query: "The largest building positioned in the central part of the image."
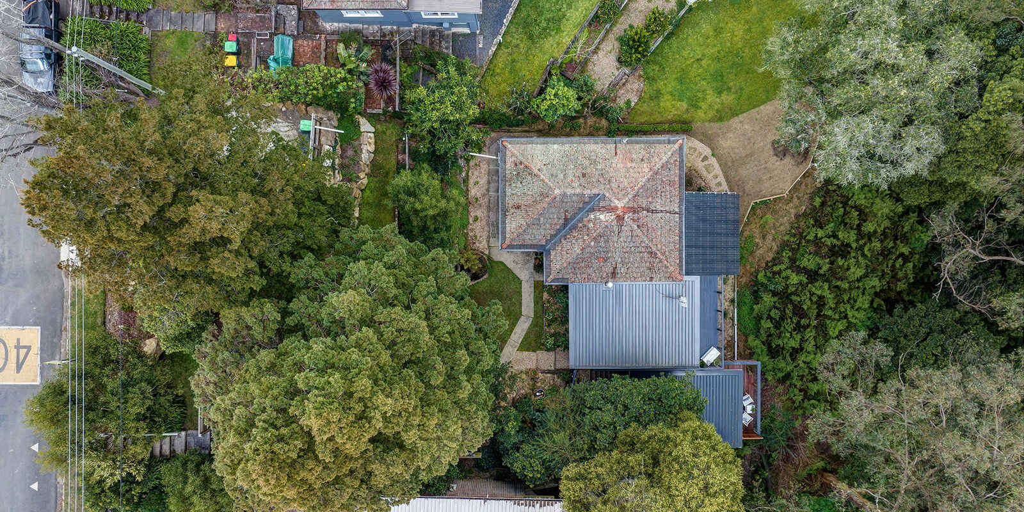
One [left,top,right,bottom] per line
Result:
[470,136,699,379]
